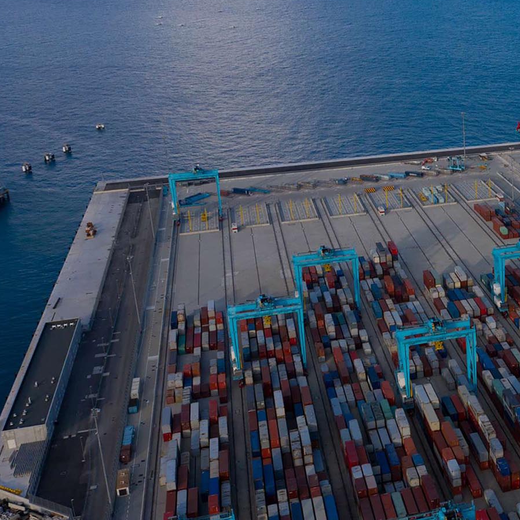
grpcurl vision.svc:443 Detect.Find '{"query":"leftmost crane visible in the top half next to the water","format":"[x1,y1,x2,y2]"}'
[169,162,222,226]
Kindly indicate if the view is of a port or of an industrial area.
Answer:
port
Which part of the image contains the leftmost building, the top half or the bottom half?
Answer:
bottom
